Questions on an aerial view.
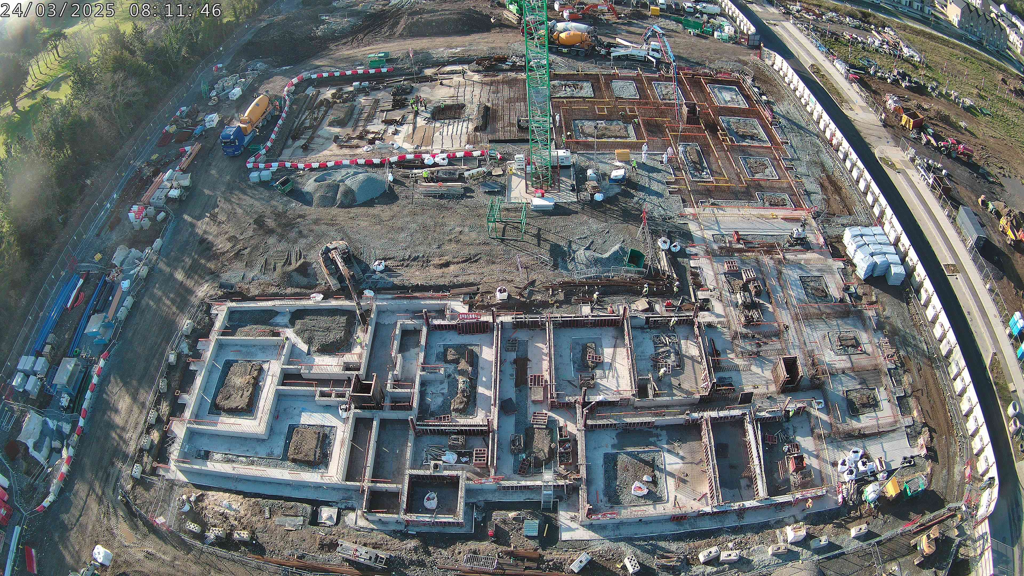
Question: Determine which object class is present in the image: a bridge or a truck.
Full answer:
Of the two, only a truck appears.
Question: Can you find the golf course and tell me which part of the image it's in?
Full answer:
You can find the golf course in the top left area of the picture.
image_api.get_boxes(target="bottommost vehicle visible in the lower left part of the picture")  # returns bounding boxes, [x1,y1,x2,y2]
[66,542,127,576]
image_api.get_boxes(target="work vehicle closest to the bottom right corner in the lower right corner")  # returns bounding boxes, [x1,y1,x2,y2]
[907,513,967,569]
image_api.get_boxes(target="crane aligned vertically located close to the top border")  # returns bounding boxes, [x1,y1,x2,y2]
[525,0,554,188]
